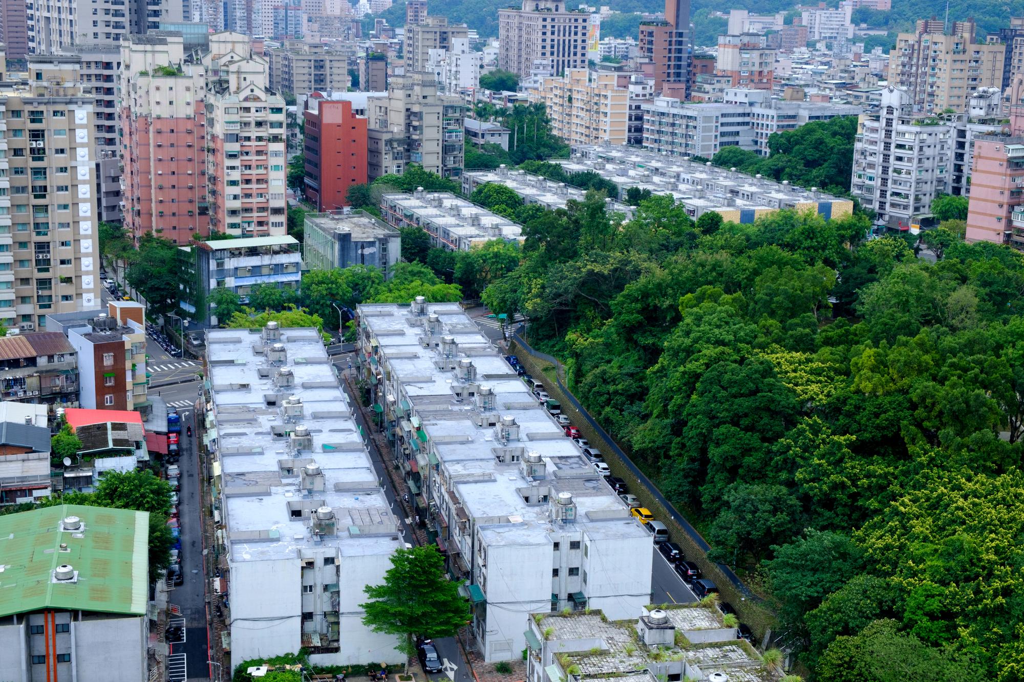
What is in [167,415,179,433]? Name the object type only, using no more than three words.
vehicle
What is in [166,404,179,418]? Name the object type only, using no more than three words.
vehicle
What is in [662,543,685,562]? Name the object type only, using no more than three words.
car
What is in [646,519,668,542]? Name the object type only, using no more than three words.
car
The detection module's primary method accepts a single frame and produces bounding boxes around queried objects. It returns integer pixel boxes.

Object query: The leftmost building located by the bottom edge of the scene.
[0,499,149,682]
